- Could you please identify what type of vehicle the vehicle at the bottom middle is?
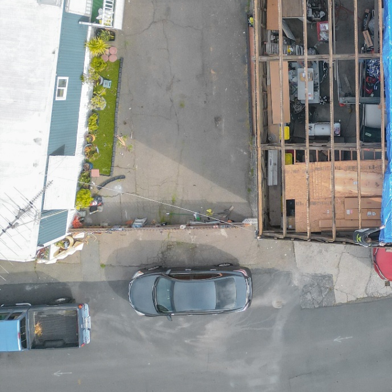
automobile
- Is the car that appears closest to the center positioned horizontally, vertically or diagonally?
horizontally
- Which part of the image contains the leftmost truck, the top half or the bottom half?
bottom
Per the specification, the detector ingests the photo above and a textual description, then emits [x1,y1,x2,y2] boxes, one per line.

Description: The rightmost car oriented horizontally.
[129,263,253,322]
